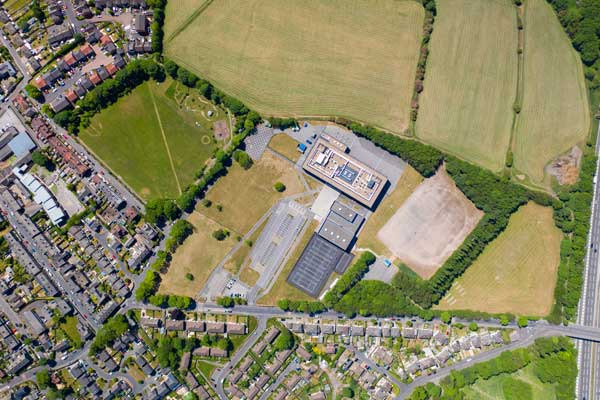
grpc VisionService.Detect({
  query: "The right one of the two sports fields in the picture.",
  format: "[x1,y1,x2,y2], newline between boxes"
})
[378,168,483,276]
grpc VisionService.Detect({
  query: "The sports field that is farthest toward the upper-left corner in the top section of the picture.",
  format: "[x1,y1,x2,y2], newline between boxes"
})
[81,76,233,203]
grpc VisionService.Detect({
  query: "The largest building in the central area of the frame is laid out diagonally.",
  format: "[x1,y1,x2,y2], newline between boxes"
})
[301,136,387,208]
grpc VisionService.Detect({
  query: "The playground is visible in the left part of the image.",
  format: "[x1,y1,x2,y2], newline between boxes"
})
[175,86,229,145]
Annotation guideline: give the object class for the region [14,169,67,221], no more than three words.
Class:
building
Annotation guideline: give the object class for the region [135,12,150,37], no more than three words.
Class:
building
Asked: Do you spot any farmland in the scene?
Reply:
Yes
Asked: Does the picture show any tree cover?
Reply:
Yes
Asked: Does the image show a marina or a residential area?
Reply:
residential area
